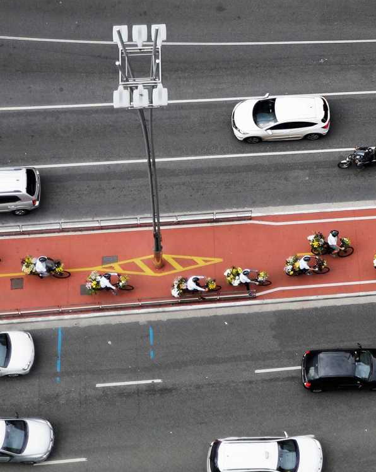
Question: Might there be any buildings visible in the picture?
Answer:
No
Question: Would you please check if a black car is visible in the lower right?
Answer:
Yes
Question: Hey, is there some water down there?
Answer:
No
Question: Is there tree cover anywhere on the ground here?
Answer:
No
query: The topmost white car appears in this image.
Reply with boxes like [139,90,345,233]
[231,92,331,144]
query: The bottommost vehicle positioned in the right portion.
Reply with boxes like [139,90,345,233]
[206,423,323,472]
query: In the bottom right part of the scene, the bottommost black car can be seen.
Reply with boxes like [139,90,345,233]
[300,341,376,394]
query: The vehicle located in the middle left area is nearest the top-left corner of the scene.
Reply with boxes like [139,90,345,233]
[0,167,41,216]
